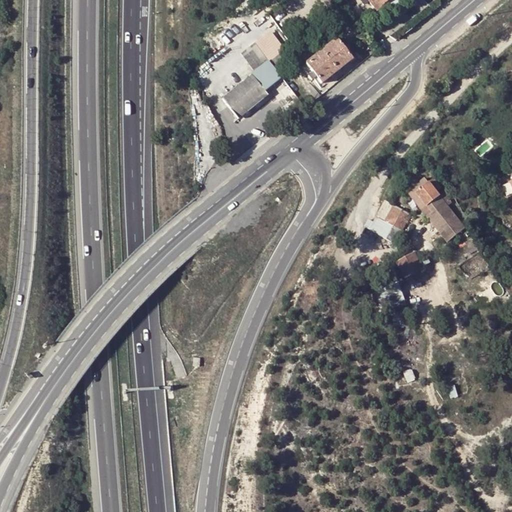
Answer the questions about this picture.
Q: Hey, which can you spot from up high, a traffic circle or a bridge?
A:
bridge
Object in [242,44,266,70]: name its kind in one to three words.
shed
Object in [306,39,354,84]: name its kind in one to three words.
house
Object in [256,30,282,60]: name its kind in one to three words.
building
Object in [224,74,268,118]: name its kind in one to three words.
building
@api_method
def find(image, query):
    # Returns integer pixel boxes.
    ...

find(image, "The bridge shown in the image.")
[39,218,199,388]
